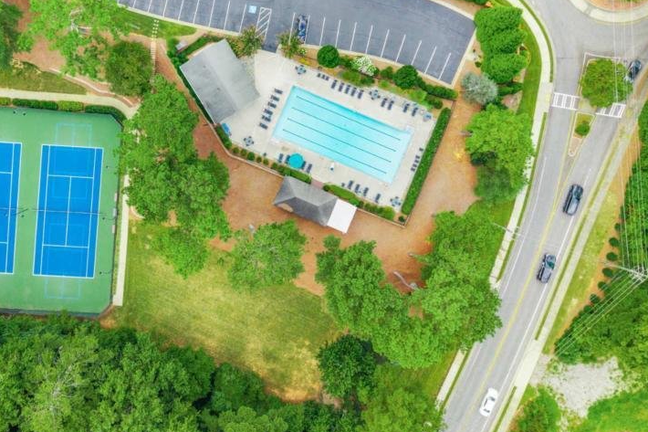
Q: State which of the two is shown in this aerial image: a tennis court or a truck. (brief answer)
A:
tennis court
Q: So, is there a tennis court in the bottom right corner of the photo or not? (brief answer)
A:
No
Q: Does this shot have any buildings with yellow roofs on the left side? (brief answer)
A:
No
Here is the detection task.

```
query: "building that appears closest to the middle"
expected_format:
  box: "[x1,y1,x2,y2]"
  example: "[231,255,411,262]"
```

[273,176,339,227]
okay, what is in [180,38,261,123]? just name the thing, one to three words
building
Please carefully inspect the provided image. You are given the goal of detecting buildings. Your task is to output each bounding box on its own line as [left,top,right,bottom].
[273,176,339,227]
[180,38,261,123]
